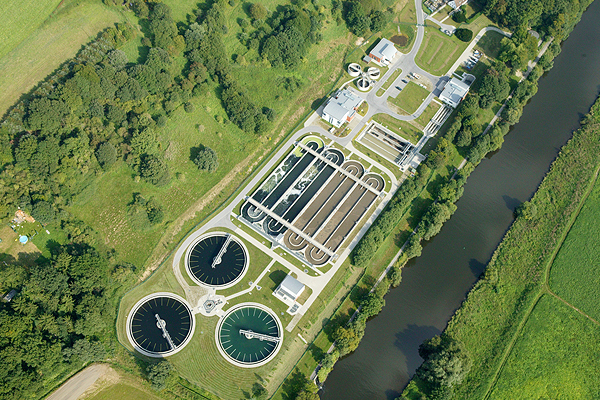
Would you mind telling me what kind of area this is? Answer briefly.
industrial area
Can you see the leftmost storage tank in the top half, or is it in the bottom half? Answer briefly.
bottom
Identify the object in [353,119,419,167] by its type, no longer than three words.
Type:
storage tank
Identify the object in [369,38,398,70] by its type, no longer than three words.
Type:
building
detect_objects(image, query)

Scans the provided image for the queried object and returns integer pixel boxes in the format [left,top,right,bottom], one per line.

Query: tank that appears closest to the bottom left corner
[126,292,196,358]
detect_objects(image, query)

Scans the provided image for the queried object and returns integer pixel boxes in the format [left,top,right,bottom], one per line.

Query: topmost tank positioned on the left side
[185,231,251,290]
